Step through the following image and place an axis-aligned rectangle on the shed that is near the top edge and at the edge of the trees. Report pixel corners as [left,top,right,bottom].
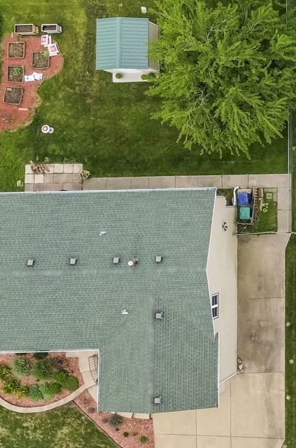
[96,15,157,82]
